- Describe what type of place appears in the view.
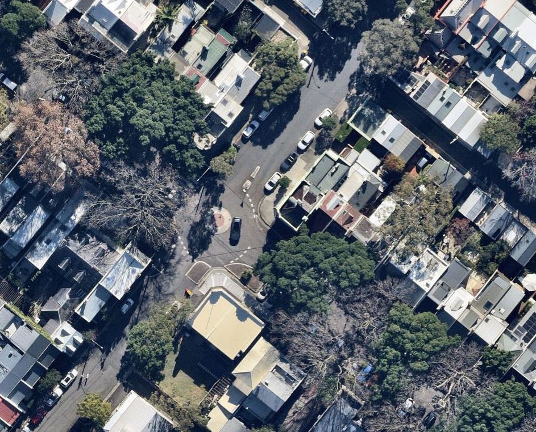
residential area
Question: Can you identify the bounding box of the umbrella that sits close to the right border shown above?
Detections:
[523,273,536,292]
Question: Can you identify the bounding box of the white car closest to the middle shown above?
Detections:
[261,169,285,194]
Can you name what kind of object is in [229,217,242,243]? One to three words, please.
vehicle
